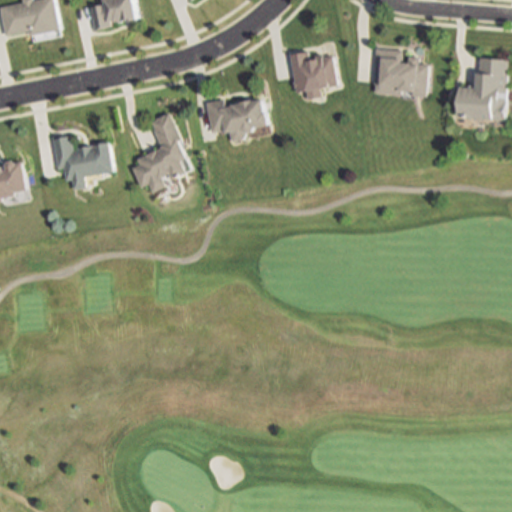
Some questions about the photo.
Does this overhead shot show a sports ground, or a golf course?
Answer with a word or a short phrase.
golf course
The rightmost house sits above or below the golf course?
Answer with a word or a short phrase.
above it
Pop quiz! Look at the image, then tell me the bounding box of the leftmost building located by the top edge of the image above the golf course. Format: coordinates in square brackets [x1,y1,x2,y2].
[0,0,60,44]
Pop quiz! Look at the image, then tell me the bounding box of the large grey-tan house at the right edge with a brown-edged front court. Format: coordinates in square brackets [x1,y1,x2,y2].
[451,59,512,128]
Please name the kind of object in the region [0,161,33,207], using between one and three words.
house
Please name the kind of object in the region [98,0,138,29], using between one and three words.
house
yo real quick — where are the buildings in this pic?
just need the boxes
[132,114,194,205]
[374,48,434,100]
[0,161,33,207]
[451,59,512,128]
[208,98,274,147]
[292,42,343,102]
[54,134,116,192]
[98,0,138,29]
[0,0,60,44]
